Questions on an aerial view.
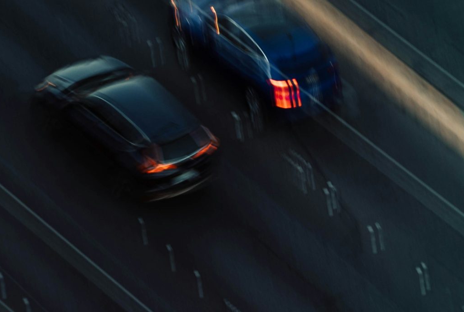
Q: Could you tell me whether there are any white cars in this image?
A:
No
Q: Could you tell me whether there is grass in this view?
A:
No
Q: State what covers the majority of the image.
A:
paved ground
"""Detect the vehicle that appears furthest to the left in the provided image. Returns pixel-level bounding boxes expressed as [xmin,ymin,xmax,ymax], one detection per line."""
[41,54,213,189]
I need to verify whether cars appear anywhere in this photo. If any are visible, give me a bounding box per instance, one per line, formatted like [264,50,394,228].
[41,54,213,189]
[172,0,341,119]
